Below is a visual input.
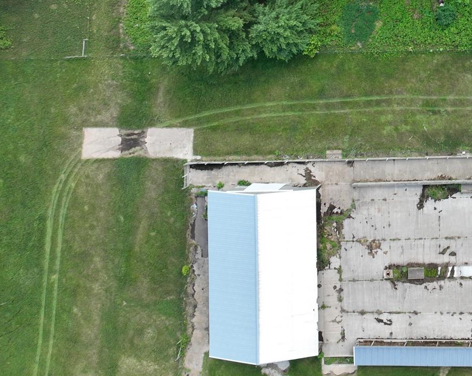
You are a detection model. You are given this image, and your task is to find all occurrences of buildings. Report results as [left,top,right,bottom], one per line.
[207,180,324,366]
[352,339,472,369]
